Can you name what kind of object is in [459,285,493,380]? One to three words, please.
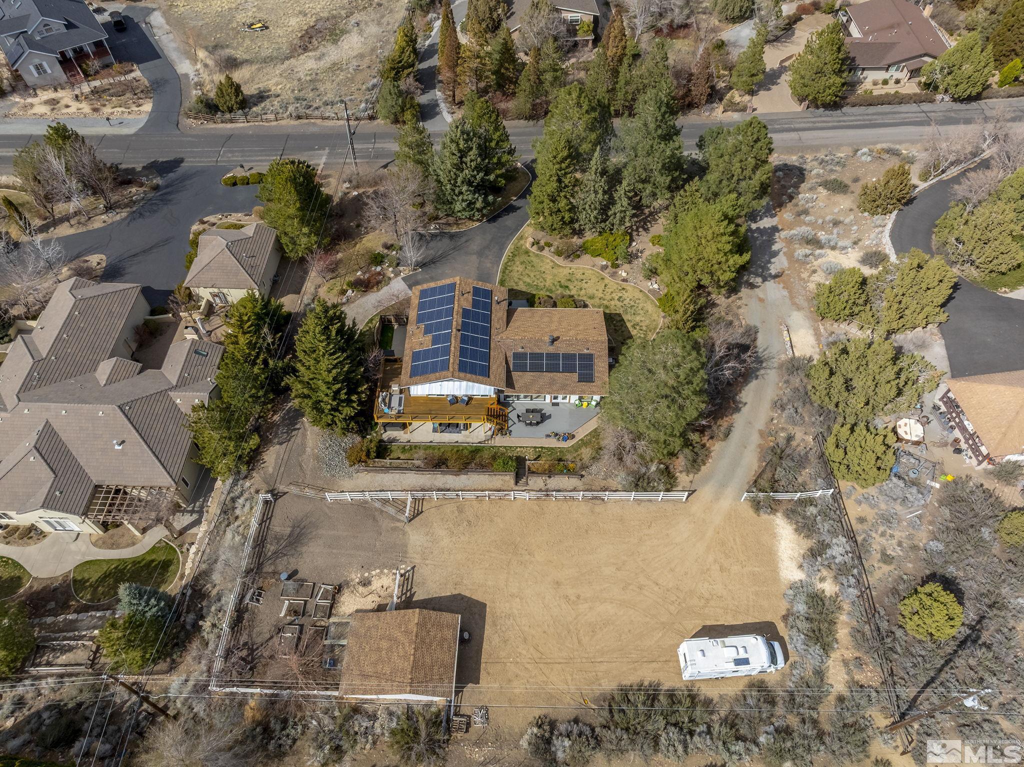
solar array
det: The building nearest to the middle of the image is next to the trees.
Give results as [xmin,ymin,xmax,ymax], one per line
[398,278,610,410]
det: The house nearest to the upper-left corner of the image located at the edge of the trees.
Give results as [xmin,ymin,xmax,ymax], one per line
[0,0,115,94]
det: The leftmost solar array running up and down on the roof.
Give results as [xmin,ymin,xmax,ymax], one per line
[406,282,452,380]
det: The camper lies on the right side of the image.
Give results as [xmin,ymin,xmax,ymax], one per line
[679,640,785,682]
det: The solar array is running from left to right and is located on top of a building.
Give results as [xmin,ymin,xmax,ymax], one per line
[513,354,597,384]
